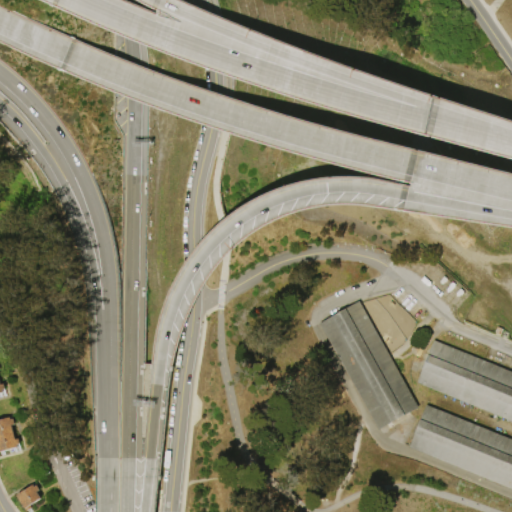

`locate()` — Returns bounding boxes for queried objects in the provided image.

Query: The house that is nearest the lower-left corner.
[17,484,42,508]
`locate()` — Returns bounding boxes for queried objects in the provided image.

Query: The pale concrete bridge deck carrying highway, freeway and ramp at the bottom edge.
[96,458,162,512]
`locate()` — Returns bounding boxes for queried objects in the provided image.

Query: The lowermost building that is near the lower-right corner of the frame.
[412,404,512,484]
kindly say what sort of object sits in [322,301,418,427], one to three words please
building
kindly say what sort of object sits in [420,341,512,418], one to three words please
building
